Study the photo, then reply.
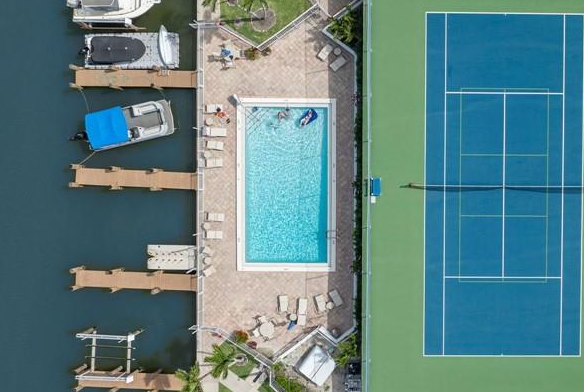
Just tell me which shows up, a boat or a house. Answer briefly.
boat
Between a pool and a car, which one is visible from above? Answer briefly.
pool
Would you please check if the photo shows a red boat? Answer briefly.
No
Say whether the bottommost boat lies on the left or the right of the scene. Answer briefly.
left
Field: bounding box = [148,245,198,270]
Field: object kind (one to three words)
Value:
pier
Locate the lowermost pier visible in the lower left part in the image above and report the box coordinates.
[73,362,199,392]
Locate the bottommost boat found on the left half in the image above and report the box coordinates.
[67,102,176,151]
